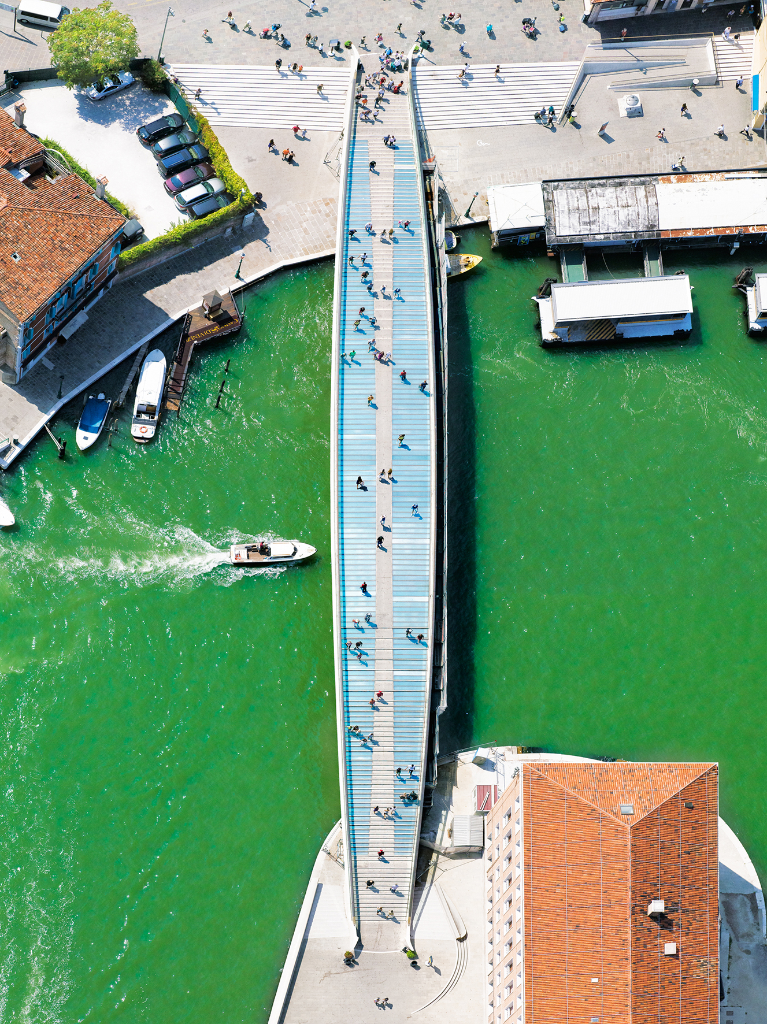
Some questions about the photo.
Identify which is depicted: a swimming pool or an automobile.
automobile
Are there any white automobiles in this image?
Yes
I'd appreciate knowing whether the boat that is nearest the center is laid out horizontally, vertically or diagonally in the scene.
horizontally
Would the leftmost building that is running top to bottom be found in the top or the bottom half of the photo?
top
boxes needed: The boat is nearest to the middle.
[229,541,319,566]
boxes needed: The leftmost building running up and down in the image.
[0,98,128,388]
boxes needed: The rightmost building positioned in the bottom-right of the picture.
[491,761,722,1024]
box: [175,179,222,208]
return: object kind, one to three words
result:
car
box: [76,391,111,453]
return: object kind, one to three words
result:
boat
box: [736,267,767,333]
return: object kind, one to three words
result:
pier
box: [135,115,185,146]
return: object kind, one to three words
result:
car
